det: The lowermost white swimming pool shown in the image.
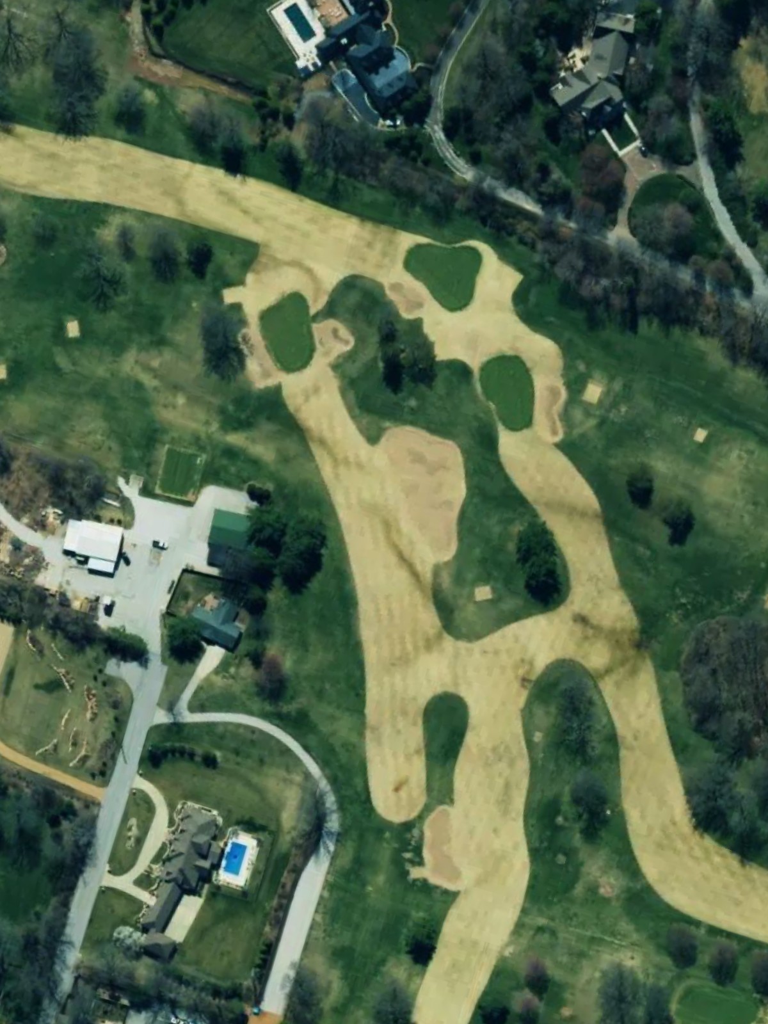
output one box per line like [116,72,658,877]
[216,832,258,886]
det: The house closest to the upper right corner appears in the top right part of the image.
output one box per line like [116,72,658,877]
[547,0,641,116]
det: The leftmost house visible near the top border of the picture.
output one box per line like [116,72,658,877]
[313,0,413,97]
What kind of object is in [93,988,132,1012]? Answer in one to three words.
house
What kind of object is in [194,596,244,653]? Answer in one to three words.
house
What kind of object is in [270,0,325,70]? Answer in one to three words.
swimming pool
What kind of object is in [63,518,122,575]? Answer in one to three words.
shed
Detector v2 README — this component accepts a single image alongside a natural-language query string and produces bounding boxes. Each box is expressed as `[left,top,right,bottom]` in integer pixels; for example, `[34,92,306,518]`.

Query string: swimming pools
[216,832,258,886]
[270,0,325,70]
